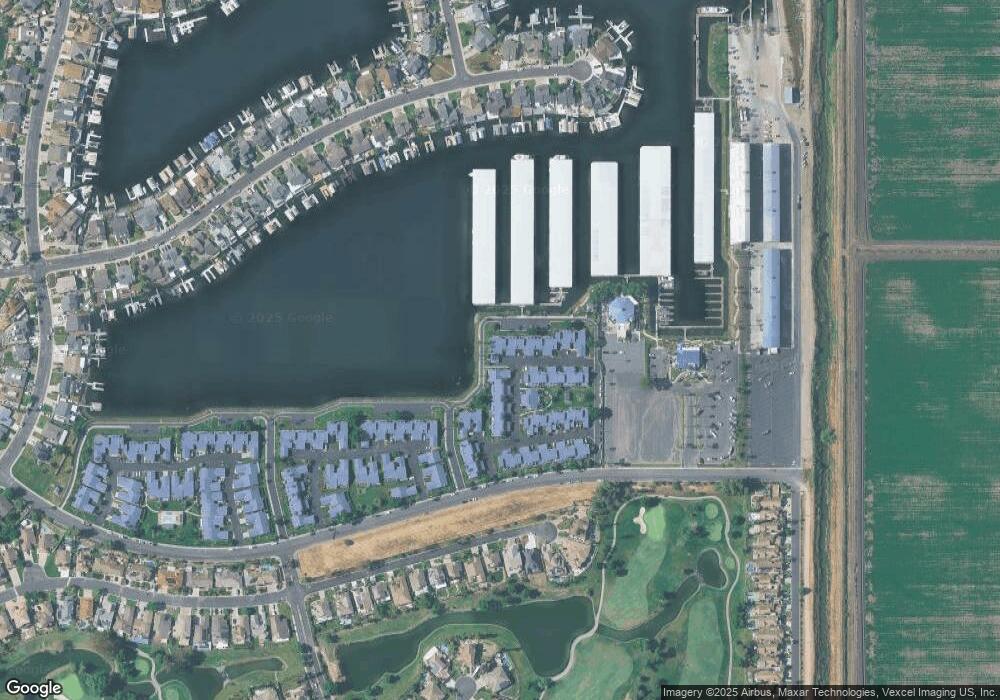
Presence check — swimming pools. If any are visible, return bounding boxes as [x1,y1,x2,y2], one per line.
[158,511,184,525]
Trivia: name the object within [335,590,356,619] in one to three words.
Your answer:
house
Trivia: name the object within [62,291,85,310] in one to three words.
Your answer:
house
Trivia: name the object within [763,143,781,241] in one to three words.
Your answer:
shed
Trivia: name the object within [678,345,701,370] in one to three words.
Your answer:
building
